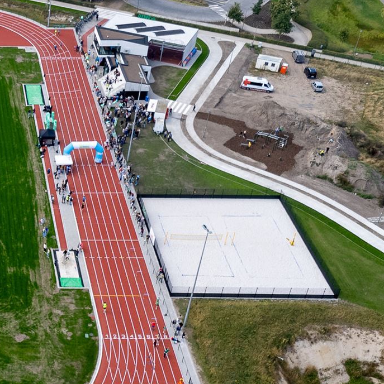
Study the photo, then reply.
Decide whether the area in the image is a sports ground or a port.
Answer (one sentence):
It's a sports ground.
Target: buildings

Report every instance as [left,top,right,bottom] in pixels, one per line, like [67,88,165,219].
[255,55,283,72]
[94,13,197,99]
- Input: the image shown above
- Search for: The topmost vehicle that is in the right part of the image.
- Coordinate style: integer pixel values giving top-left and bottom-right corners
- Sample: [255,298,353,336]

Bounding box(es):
[293,50,305,62]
